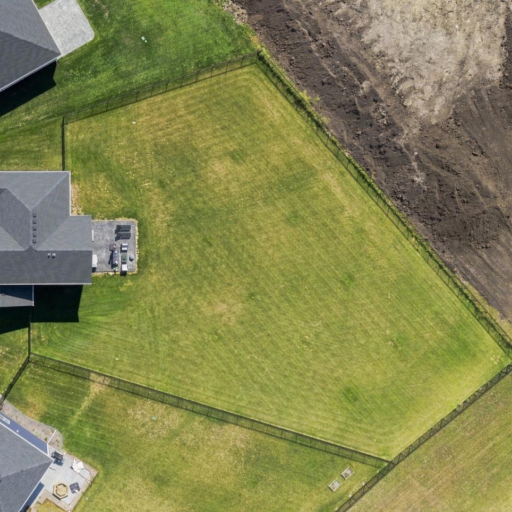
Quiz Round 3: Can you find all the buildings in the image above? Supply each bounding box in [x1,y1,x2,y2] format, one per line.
[0,170,98,307]
[0,0,63,92]
[0,413,56,512]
